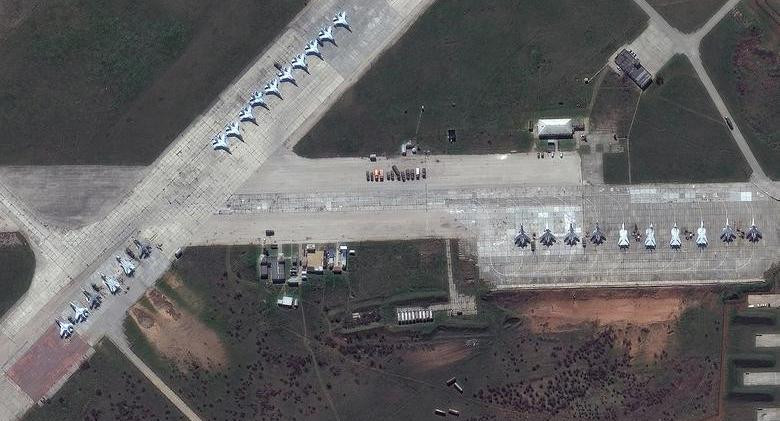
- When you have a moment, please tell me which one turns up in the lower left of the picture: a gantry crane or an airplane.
airplane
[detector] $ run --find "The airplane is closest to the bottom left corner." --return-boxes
[56,321,76,340]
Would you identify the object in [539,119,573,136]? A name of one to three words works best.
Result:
building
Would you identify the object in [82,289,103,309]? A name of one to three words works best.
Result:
airplane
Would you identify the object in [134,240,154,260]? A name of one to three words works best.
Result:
airplane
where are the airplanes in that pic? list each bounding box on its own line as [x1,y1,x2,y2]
[331,10,350,28]
[101,275,120,293]
[71,304,90,323]
[238,102,257,122]
[56,321,76,340]
[670,225,682,247]
[617,223,630,246]
[318,24,336,43]
[645,224,657,247]
[117,257,136,276]
[540,225,555,247]
[277,64,296,82]
[211,131,231,150]
[82,289,103,309]
[721,219,736,241]
[224,119,244,138]
[134,240,154,260]
[263,76,281,97]
[514,224,530,247]
[289,51,309,72]
[696,221,708,244]
[564,225,579,247]
[248,87,268,105]
[746,218,762,241]
[303,37,324,57]
[590,223,606,246]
